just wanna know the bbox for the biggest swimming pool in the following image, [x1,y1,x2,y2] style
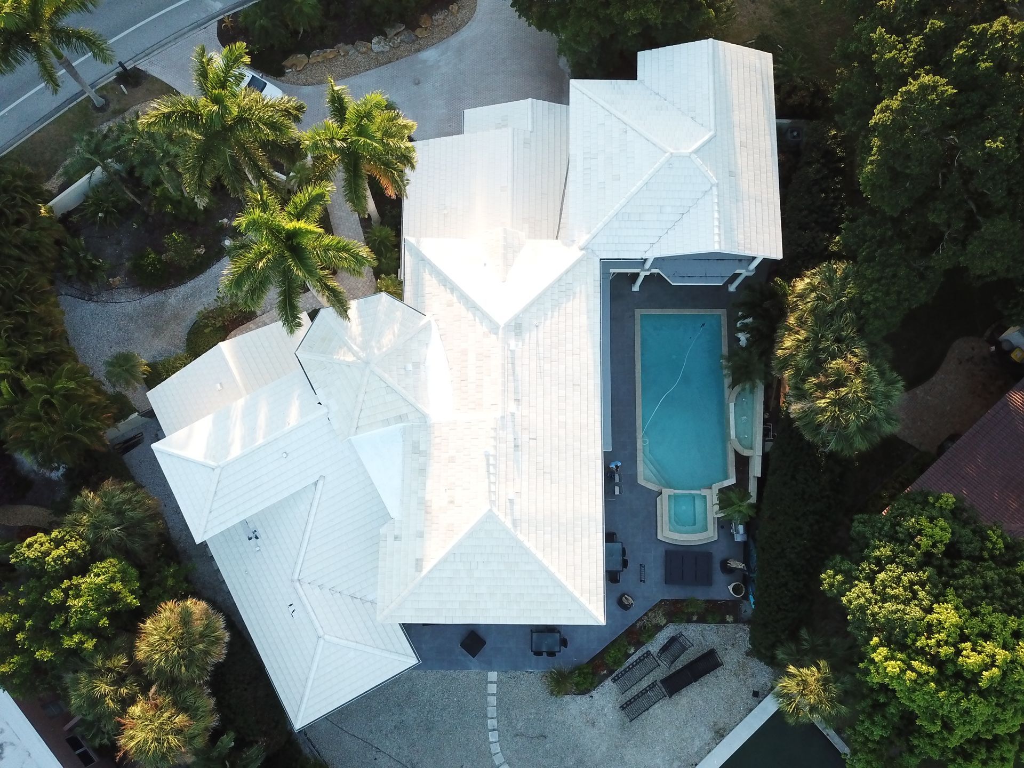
[635,309,735,494]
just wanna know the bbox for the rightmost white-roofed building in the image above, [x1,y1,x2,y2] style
[146,38,783,732]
